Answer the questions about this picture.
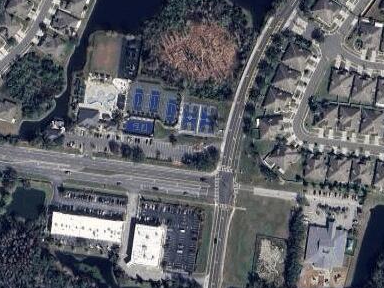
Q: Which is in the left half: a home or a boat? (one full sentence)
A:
It is a home that can be seen in the left half.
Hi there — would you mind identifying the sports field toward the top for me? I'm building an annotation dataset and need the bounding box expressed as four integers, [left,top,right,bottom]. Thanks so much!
[89,32,121,76]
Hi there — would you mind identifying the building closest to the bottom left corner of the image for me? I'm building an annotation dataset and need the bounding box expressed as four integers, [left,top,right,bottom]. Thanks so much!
[51,212,123,242]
